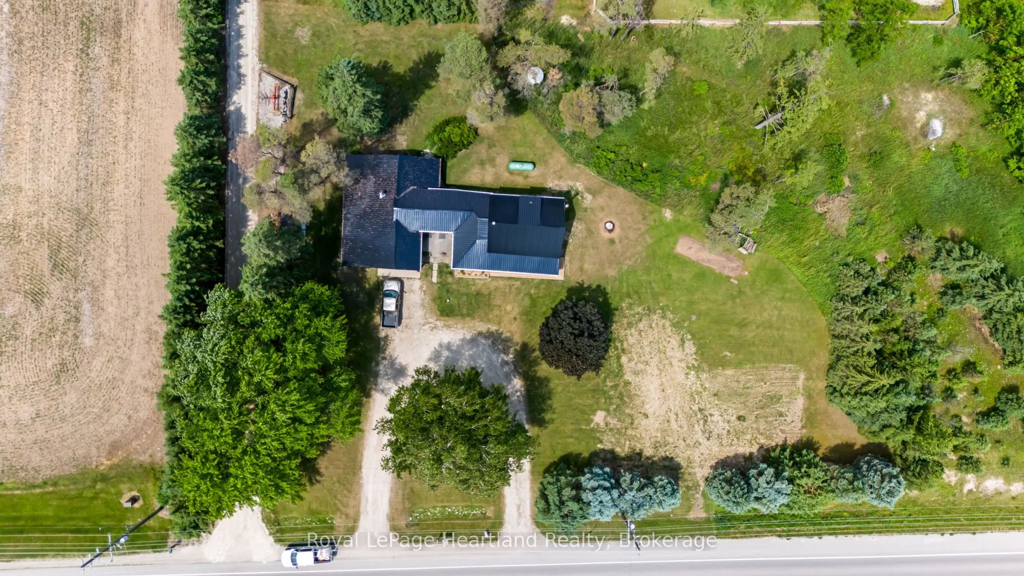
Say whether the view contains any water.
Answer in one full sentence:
No, there is no water in the image.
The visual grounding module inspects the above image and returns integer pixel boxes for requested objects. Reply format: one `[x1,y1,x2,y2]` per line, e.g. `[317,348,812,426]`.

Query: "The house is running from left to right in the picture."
[341,154,565,277]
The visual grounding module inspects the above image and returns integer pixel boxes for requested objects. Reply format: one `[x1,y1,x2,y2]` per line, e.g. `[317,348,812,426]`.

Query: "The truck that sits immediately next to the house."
[382,278,403,329]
